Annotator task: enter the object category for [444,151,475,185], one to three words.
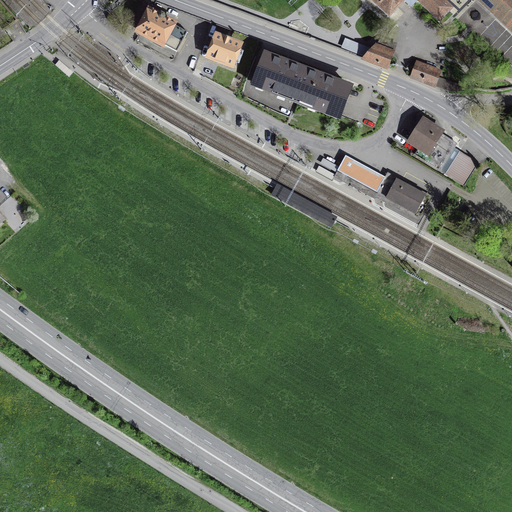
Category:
building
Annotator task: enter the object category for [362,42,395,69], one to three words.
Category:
house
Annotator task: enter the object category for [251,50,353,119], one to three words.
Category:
building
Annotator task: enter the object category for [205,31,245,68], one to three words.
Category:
house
